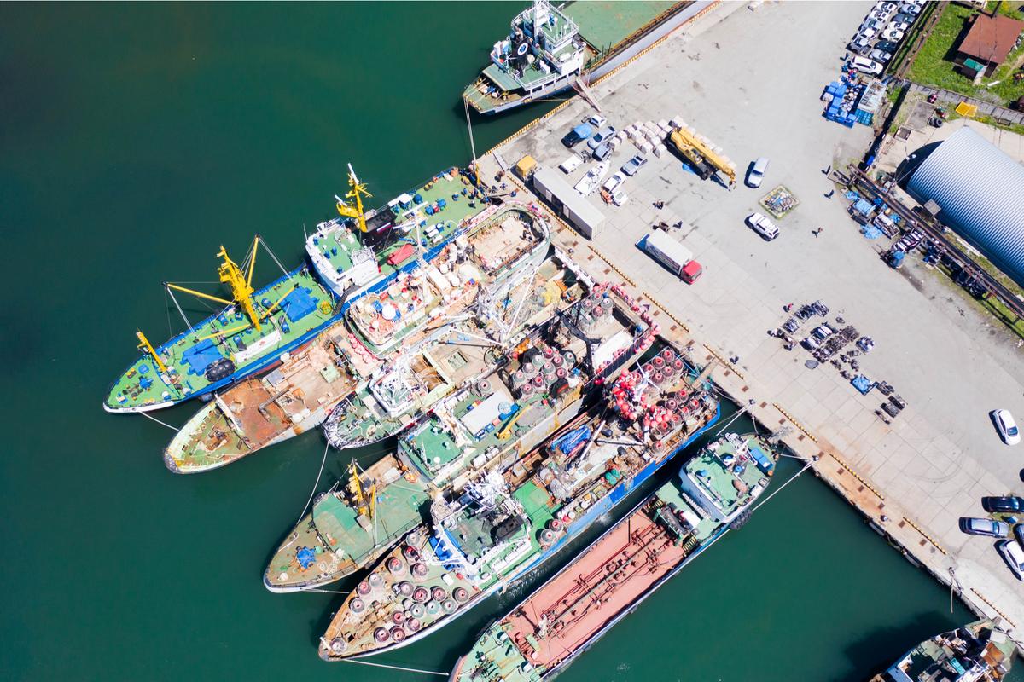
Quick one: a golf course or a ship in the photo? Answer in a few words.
ship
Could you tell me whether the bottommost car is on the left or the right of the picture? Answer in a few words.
right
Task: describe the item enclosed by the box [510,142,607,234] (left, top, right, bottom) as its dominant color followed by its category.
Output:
white truck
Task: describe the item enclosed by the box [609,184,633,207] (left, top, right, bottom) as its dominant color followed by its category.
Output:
white car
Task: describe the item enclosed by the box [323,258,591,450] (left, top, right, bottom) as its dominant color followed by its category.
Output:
white vessel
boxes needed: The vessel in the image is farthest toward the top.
[468,0,743,122]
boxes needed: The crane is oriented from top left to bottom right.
[667,125,740,182]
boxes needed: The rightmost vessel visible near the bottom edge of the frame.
[876,618,1017,682]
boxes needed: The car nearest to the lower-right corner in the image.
[1001,540,1024,583]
